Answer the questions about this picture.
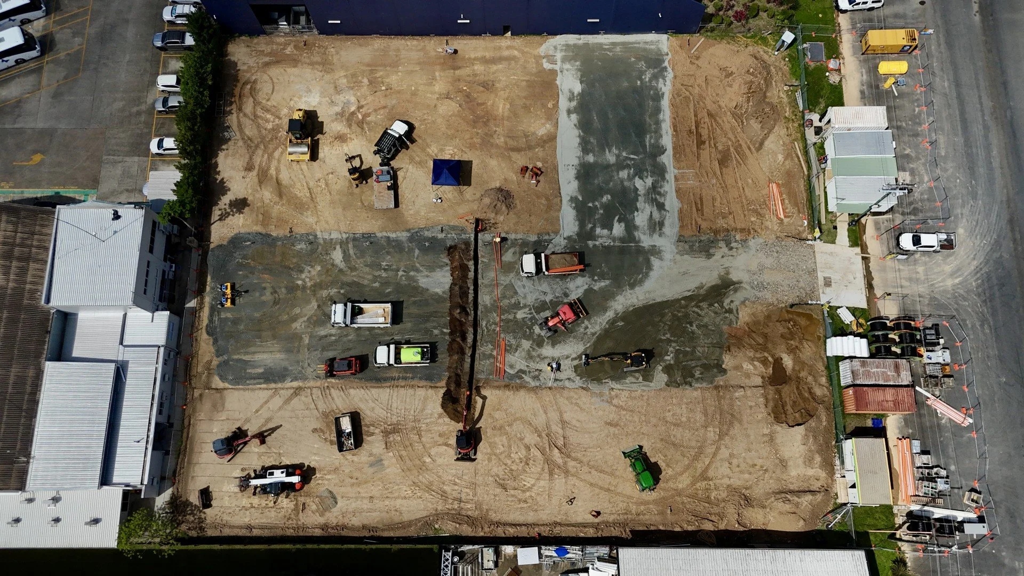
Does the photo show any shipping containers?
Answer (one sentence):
Yes, this view includes a shipping container.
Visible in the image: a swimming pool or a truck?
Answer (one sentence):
This aerial view contains a truck.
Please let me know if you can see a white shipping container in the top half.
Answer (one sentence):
Yes, the scene does show a white shipping container in the top half.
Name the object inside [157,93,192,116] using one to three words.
car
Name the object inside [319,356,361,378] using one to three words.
work vehicle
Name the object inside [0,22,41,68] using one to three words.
bus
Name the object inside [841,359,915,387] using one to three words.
shipping container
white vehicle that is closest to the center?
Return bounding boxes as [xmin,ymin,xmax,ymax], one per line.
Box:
[521,248,585,277]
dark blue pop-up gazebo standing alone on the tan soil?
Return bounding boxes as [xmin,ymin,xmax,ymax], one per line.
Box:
[432,159,461,194]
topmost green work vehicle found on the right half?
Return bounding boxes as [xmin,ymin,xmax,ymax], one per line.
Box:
[619,439,659,492]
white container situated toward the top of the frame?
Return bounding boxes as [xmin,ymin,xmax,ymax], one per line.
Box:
[815,101,890,141]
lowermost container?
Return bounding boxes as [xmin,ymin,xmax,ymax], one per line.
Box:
[843,387,918,413]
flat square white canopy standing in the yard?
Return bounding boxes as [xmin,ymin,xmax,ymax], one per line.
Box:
[516,546,539,566]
